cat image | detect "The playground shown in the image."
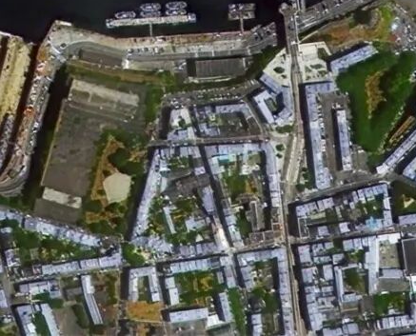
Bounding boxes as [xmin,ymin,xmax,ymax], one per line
[102,173,131,204]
